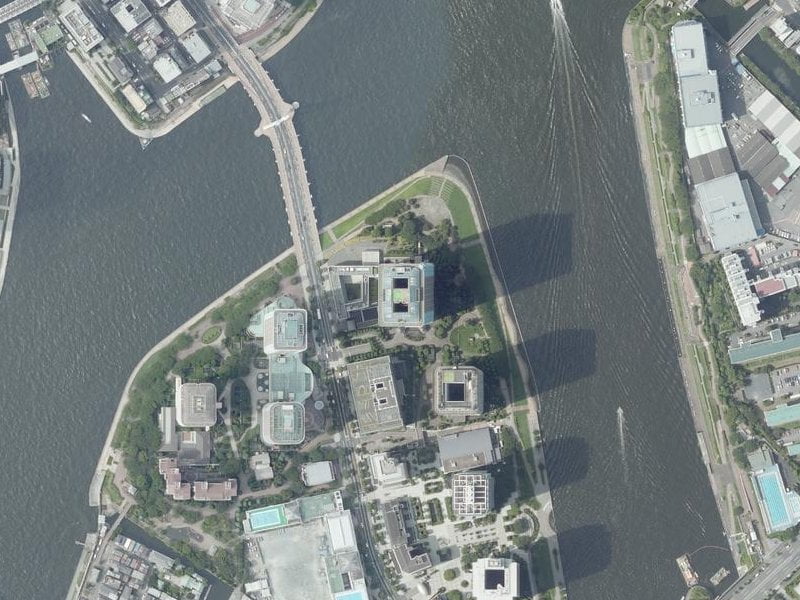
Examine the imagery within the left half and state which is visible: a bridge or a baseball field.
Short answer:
bridge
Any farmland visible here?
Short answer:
No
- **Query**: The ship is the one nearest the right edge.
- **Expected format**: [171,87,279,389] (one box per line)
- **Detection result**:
[710,568,729,585]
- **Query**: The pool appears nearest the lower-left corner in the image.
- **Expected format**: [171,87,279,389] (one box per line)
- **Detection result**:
[246,504,288,534]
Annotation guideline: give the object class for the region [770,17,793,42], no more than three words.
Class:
house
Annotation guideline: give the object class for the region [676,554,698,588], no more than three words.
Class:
ship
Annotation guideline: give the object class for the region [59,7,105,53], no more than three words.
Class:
building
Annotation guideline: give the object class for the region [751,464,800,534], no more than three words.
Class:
swimming pool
